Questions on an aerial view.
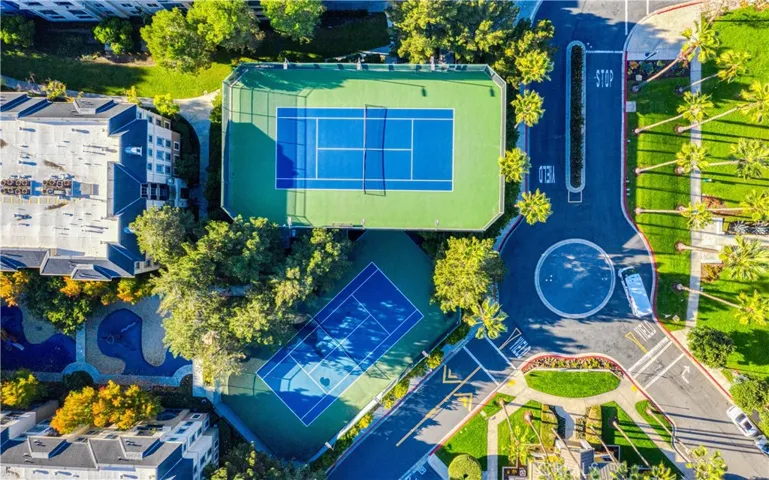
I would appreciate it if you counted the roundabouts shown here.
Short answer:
1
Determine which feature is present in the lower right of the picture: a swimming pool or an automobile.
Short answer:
automobile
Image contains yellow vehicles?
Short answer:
No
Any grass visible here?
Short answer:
Yes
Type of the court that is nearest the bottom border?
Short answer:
tennis court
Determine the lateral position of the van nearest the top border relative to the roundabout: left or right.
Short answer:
right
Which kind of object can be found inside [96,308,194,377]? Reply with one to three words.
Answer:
swimming pool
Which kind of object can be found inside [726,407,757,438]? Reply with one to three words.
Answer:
car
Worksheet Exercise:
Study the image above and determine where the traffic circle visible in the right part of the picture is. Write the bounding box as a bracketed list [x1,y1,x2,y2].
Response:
[535,238,616,318]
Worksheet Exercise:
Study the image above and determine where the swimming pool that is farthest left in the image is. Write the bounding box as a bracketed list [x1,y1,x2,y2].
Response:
[0,302,76,372]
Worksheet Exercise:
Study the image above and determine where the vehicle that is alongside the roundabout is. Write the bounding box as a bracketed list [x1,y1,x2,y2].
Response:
[618,266,655,318]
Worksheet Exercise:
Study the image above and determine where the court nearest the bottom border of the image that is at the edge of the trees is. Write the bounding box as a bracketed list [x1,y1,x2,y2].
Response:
[219,231,460,461]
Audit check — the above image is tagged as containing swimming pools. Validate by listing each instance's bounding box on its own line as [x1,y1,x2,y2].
[0,302,76,372]
[96,308,194,377]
